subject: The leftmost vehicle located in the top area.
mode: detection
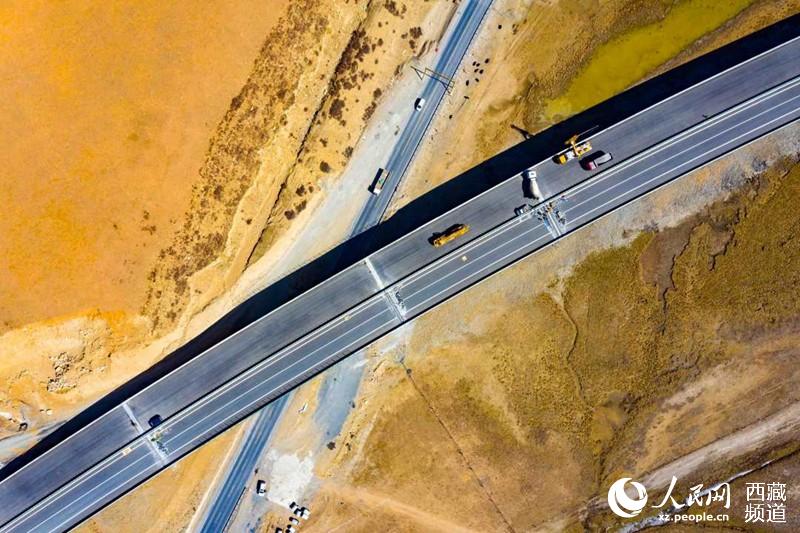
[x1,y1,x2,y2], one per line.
[373,168,390,194]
